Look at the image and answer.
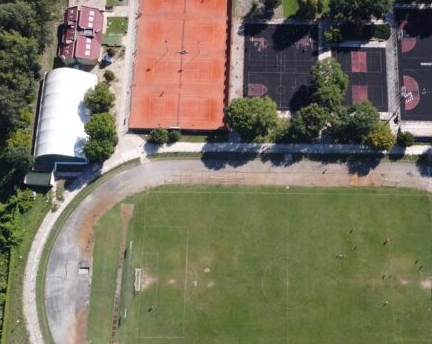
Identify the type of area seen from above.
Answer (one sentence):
This image shows a sports ground.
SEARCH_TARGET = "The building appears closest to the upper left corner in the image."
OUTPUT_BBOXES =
[60,8,106,63]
